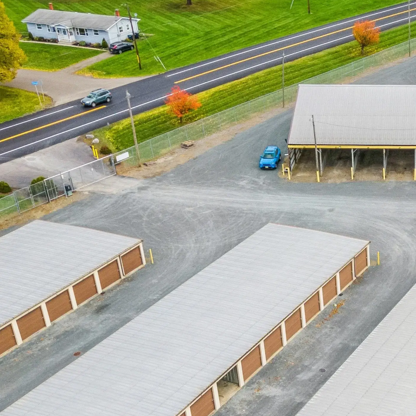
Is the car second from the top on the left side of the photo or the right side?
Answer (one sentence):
You can find the car second from the top on the left side of the picture.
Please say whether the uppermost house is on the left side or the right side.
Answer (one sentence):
The uppermost house appears in the left half of the scene.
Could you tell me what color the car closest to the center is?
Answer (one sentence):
From above, the car closest to the center appears blue.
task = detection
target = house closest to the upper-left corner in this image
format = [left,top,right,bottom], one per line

[22,0,144,43]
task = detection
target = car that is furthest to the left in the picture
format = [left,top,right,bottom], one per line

[79,87,113,106]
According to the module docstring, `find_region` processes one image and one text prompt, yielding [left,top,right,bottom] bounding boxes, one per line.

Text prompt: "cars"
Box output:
[108,40,134,53]
[259,145,282,168]
[79,87,113,106]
